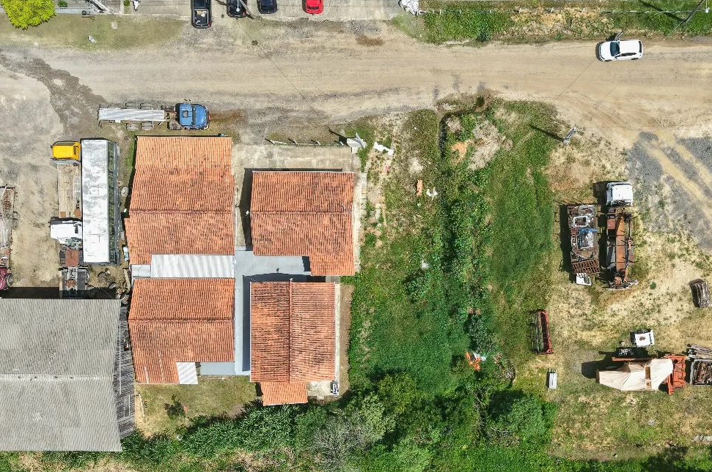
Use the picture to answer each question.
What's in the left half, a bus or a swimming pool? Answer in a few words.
bus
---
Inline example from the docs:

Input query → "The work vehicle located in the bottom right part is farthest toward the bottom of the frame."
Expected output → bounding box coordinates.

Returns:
[598,351,686,394]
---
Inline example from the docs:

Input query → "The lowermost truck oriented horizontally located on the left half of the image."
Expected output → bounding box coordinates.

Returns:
[95,98,209,129]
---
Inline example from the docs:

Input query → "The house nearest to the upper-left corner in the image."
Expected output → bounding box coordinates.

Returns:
[126,136,243,266]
